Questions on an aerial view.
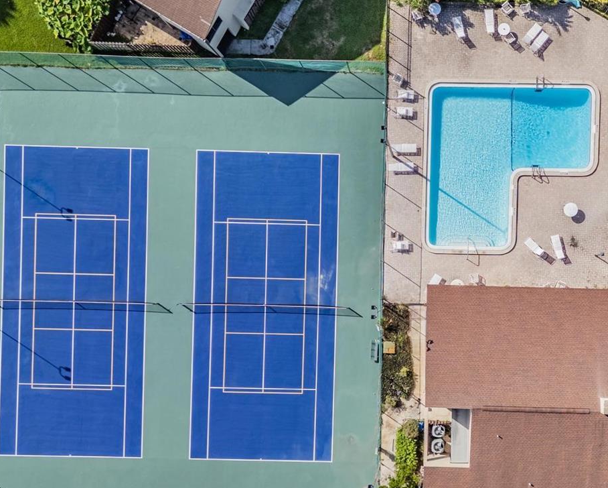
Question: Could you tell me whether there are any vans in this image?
No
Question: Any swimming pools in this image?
Yes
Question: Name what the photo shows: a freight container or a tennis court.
tennis court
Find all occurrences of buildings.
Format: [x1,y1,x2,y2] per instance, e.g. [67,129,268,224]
[423,286,608,488]
[132,0,272,58]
